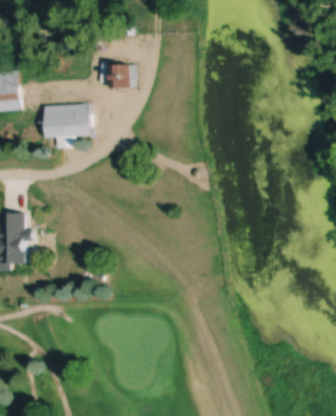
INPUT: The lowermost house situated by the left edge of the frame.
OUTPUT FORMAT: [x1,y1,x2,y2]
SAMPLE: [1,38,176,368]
[0,212,34,271]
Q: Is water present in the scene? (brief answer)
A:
Yes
